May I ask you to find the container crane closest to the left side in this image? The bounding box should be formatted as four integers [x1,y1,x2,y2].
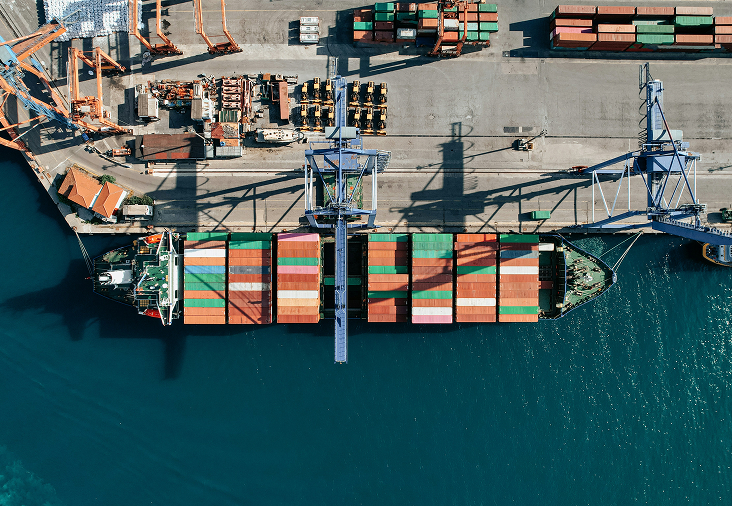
[0,0,75,158]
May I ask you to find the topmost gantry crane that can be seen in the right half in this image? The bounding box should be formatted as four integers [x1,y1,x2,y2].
[426,0,468,56]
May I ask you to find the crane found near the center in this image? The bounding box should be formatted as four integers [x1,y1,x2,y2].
[303,59,387,367]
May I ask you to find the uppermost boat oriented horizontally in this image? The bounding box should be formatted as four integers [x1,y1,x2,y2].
[257,127,302,143]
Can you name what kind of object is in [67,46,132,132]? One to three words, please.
container crane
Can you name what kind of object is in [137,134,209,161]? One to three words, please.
building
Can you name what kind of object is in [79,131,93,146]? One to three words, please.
vehicle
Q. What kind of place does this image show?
port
